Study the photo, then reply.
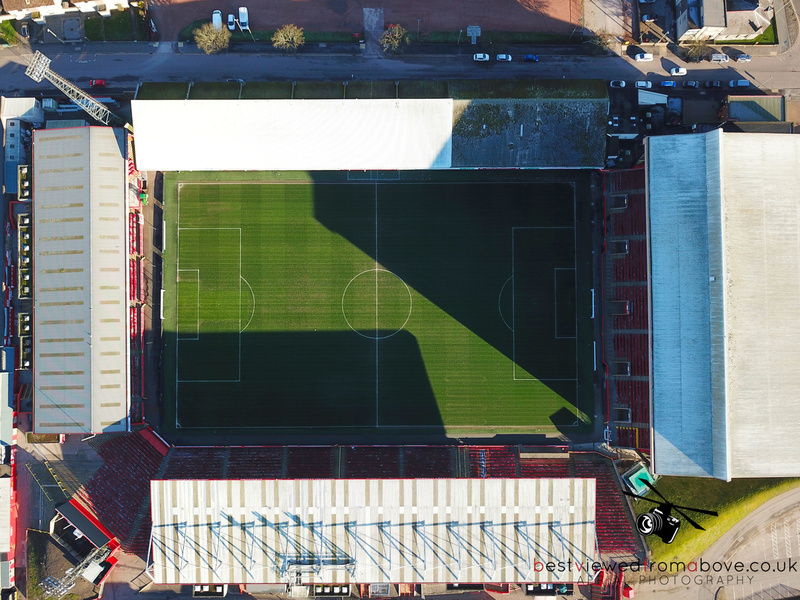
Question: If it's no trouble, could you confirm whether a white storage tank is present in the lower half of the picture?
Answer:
No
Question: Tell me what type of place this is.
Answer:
sports ground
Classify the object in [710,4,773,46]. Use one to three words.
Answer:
house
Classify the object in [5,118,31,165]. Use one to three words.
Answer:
shed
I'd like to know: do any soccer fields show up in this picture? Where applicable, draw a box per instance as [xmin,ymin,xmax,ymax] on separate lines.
[162,171,593,433]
